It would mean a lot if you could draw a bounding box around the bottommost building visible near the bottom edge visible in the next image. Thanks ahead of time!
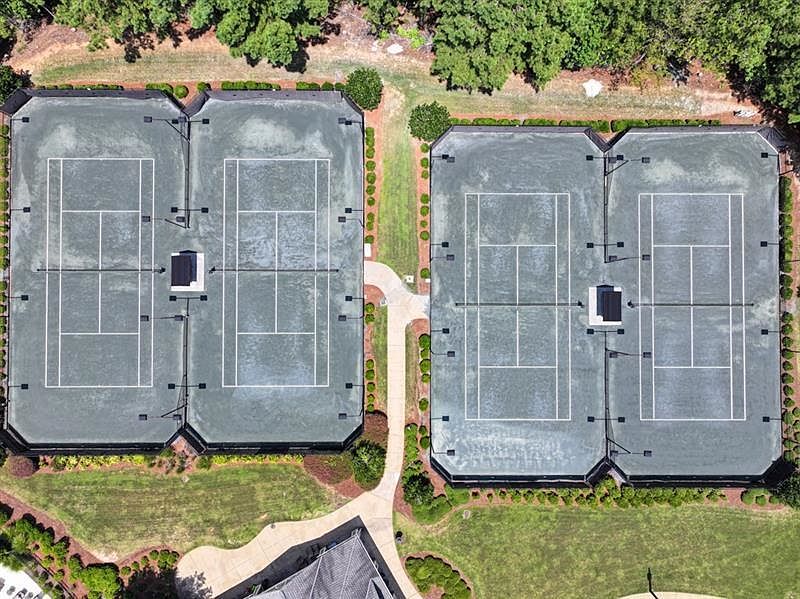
[252,526,400,599]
